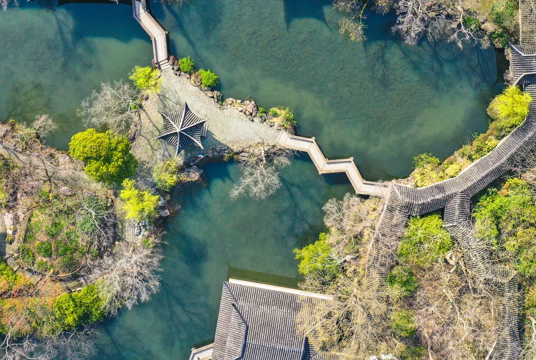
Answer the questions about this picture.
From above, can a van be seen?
No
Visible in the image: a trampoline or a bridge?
bridge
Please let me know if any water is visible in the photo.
Yes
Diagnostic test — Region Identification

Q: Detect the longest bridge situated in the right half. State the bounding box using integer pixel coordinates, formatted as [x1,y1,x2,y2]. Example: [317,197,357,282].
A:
[280,129,393,199]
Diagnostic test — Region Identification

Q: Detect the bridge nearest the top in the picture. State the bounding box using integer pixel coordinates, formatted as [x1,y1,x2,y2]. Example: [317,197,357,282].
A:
[129,0,172,68]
